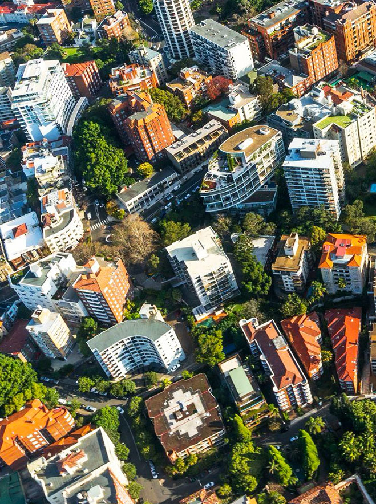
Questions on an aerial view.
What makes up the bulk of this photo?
buildings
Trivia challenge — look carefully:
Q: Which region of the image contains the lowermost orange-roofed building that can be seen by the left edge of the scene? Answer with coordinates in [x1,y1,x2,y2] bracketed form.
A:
[0,397,94,482]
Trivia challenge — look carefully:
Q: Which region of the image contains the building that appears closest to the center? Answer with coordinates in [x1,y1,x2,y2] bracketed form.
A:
[165,227,241,311]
